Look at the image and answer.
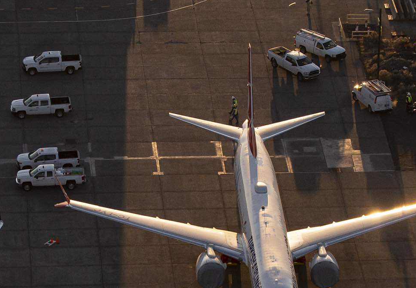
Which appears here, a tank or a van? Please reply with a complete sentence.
Looking from above, you can make out a van.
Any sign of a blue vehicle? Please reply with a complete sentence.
No, I can see no blue vehicle in this picture.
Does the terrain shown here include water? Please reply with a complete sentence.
No, no water is visible.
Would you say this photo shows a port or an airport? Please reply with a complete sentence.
This looks like an airport.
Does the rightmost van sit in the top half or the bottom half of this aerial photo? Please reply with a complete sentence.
The rightmost van is in the top half of the image.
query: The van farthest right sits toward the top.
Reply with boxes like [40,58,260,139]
[349,80,395,114]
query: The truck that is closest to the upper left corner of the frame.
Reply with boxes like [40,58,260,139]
[21,51,83,75]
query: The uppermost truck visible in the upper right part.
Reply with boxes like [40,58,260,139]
[290,25,352,63]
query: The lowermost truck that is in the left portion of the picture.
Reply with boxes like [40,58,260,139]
[16,161,86,188]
